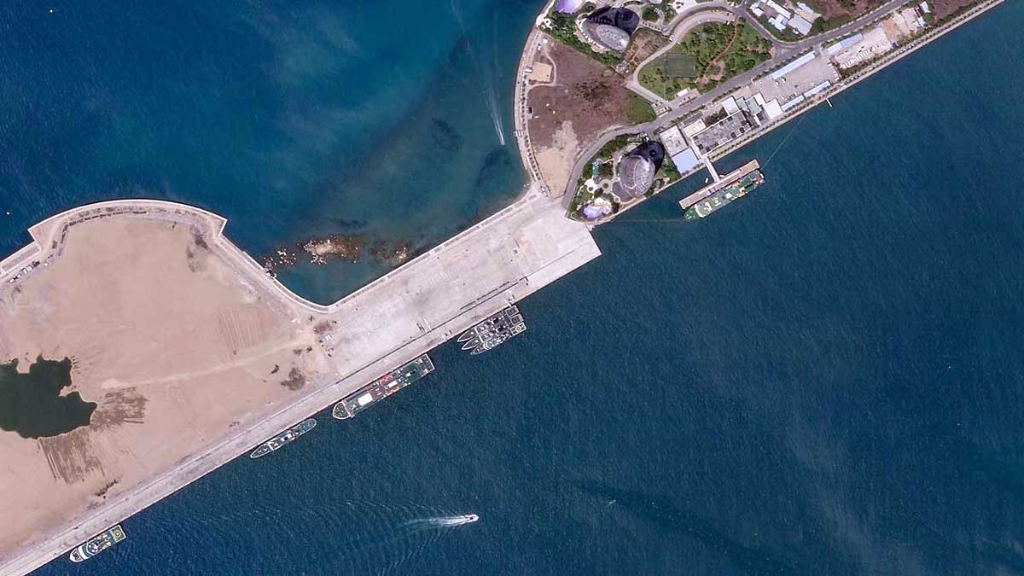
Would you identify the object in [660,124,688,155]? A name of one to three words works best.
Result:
building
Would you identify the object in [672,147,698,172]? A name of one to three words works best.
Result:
building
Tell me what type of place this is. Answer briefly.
port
